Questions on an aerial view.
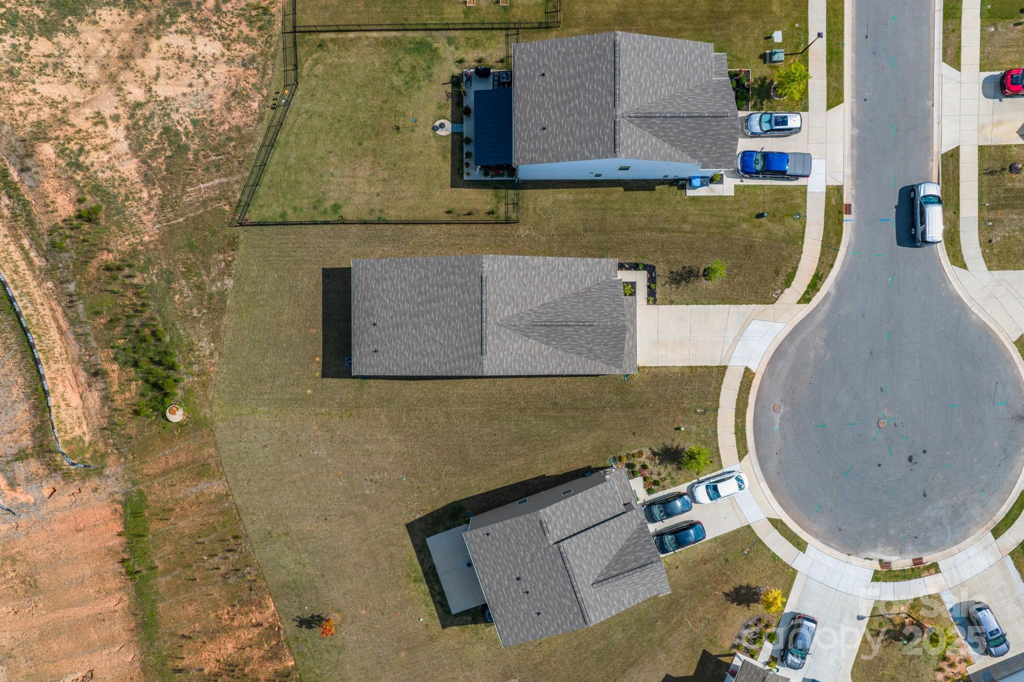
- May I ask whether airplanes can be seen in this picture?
No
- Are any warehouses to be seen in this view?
No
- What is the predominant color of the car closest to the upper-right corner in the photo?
red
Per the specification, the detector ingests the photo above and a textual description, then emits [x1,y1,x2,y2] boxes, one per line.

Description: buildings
[511,33,739,180]
[461,463,671,649]
[996,670,1024,682]
[722,649,795,682]
[351,255,637,377]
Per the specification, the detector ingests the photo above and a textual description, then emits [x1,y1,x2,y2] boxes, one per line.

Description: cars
[781,614,820,672]
[742,107,801,137]
[998,69,1024,96]
[652,518,710,554]
[639,489,697,525]
[691,470,751,504]
[968,603,1016,660]
[909,182,946,247]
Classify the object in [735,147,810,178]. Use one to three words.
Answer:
truck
